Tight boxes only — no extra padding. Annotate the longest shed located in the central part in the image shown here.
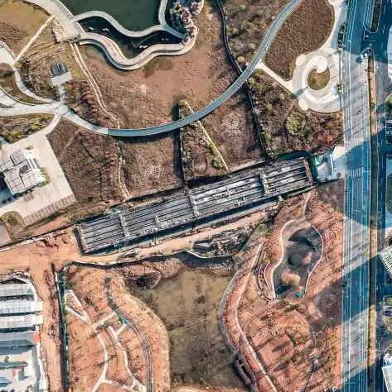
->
[79,158,316,252]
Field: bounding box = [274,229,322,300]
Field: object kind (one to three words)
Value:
pond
